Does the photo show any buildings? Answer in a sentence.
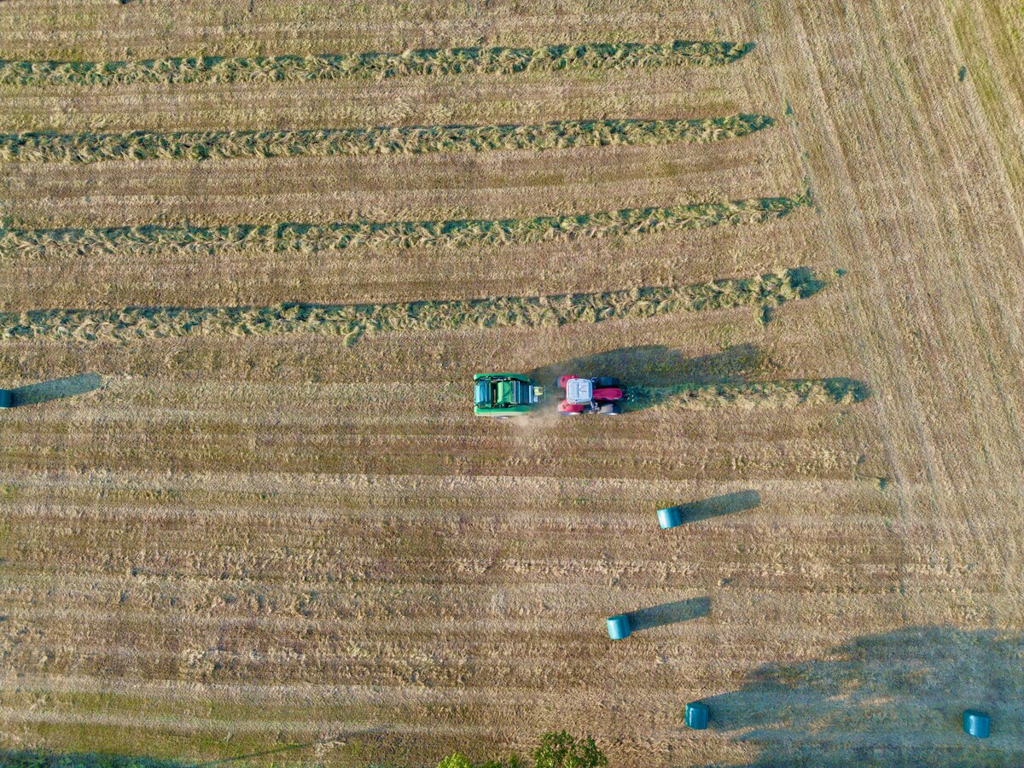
No, I can see no building in this picture.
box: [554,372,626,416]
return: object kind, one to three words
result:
work vehicle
